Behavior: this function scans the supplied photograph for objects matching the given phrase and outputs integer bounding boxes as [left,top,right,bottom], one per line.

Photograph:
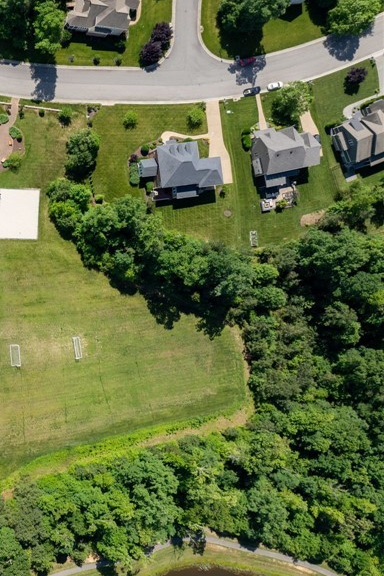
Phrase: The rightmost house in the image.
[331,97,384,179]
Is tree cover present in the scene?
Yes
